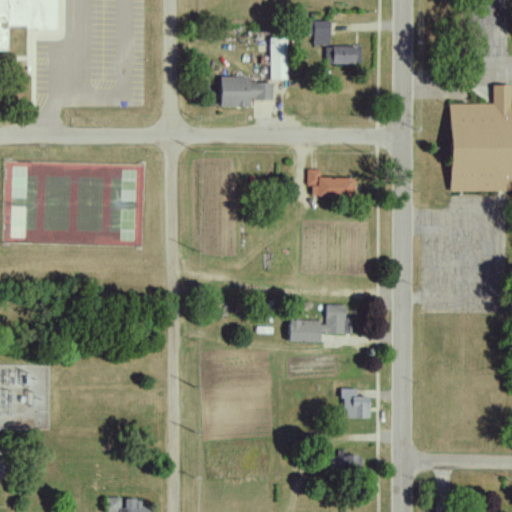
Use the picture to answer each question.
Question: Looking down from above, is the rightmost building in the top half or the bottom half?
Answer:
top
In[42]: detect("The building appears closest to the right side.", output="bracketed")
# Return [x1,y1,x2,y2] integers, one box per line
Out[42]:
[450,86,512,192]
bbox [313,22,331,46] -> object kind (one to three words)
building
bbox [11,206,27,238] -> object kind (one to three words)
sports court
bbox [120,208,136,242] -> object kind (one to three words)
sports court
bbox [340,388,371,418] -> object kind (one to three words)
house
